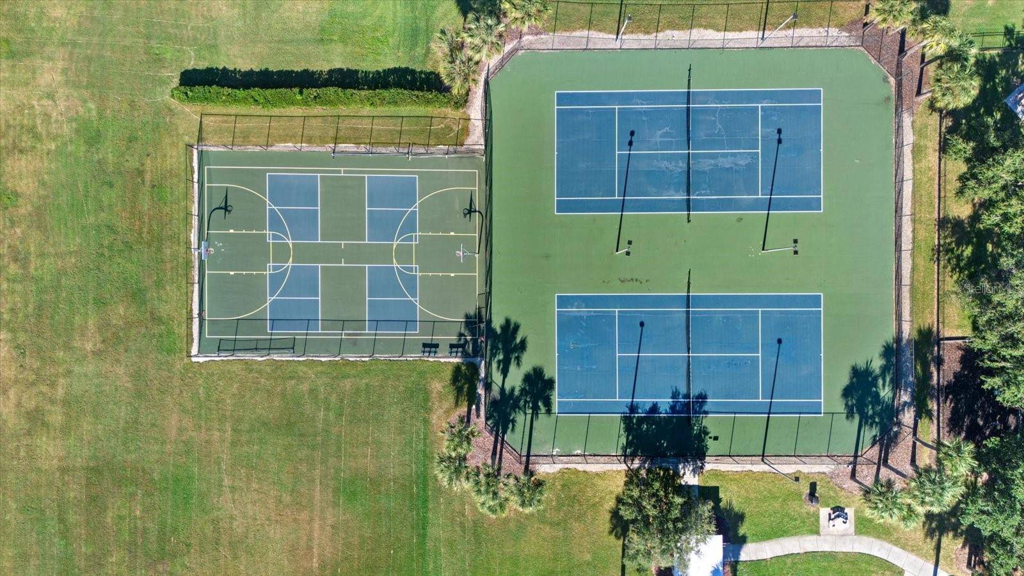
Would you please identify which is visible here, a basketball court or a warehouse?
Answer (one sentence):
It is a basketball court that can be seen here.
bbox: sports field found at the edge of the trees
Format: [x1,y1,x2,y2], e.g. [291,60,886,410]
[0,0,429,576]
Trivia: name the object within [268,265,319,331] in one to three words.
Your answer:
sports court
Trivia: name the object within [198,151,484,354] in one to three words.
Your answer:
basketball court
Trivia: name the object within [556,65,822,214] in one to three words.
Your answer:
tennis court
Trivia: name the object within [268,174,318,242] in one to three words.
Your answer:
sports court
